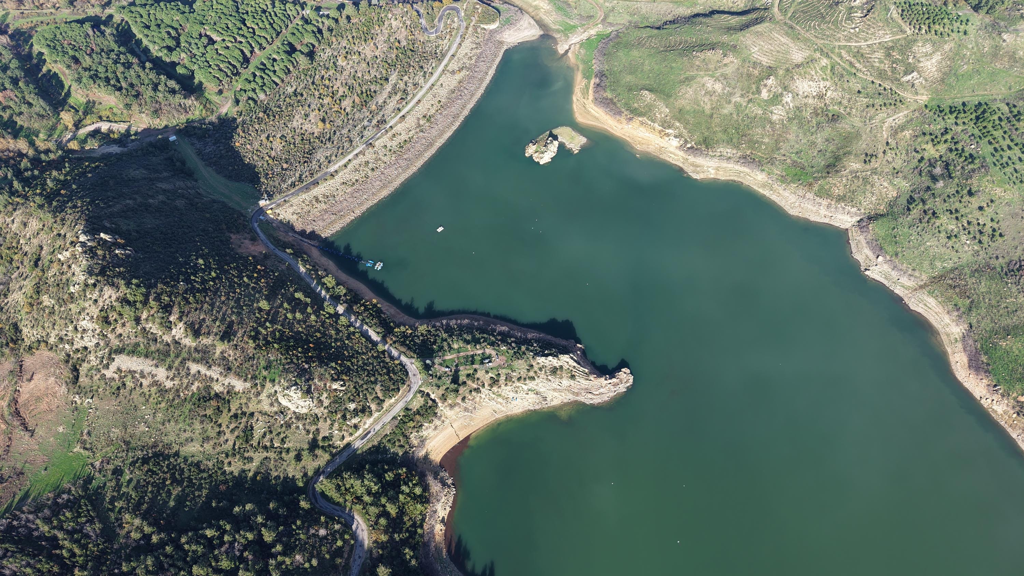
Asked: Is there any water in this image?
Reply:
Yes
